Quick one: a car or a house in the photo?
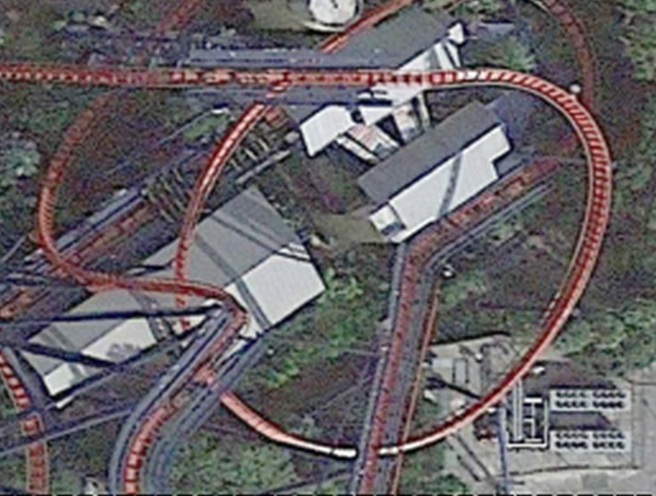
house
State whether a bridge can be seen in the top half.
No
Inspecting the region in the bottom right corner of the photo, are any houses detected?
Yes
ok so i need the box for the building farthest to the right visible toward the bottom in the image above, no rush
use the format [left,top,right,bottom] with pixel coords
[497,378,549,448]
